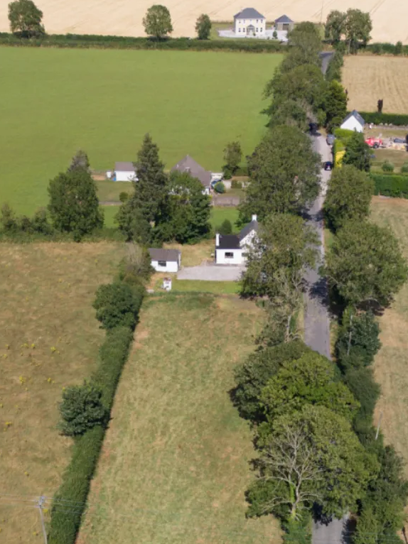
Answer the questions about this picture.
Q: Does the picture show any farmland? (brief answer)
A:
Yes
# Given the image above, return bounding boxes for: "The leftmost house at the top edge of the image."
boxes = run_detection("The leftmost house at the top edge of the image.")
[235,6,267,37]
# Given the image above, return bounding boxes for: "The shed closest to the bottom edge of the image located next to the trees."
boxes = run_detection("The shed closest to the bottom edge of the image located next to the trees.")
[151,251,179,272]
